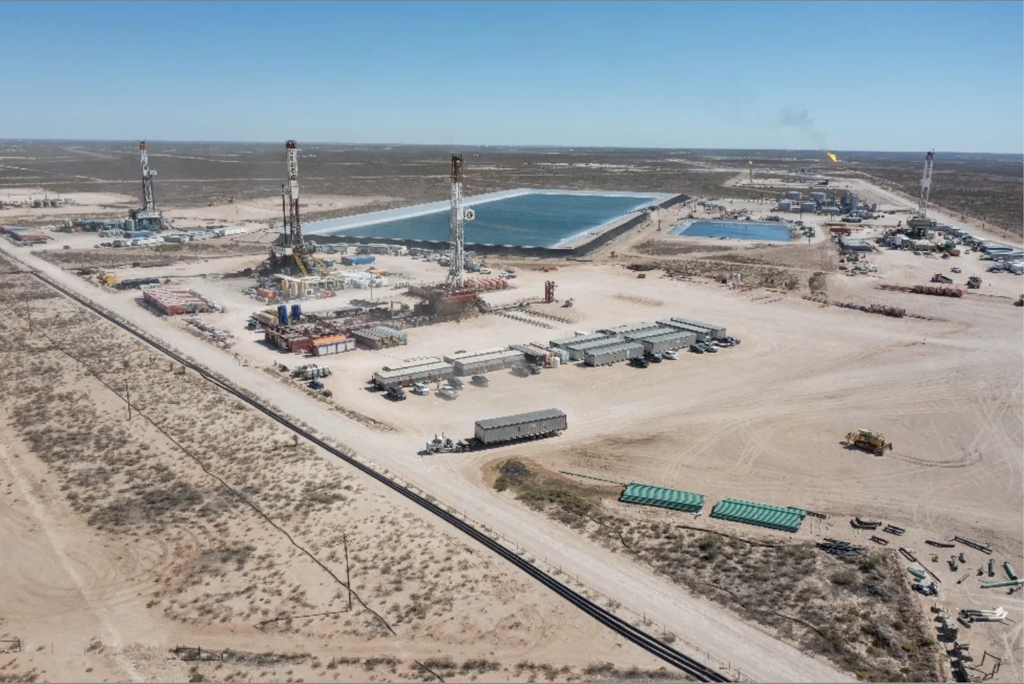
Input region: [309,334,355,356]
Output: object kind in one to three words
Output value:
building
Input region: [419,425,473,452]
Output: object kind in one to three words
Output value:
truck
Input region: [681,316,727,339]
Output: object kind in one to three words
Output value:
house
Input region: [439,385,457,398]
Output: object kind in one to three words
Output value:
vehicle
